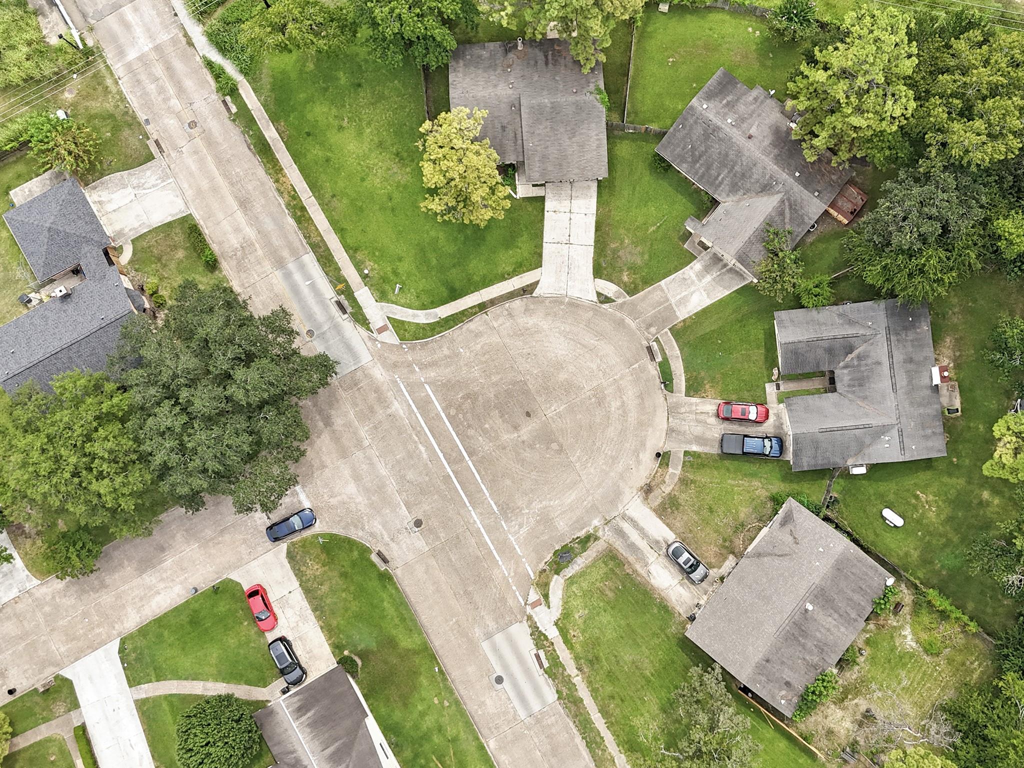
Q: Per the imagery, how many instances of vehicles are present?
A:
6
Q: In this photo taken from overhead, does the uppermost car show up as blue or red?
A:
red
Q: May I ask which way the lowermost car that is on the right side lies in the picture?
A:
on a diagonal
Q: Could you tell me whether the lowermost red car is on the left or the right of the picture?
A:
left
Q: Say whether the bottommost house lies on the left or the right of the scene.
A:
left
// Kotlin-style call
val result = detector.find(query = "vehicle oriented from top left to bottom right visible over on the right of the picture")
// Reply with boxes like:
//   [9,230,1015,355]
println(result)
[665,538,709,586]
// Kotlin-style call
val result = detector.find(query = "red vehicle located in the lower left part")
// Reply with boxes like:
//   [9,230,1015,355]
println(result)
[244,581,279,633]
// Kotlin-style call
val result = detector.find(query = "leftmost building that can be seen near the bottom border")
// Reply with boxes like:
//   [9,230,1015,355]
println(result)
[253,658,402,768]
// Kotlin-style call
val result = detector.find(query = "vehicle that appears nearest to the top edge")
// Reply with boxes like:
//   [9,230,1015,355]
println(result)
[716,401,768,425]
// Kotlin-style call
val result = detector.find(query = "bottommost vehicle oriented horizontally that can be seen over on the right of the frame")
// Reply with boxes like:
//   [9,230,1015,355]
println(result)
[718,433,783,459]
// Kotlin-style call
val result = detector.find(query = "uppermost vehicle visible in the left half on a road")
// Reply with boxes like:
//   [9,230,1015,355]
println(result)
[265,506,319,544]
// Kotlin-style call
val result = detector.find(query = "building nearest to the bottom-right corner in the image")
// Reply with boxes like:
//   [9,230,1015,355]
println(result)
[684,496,896,718]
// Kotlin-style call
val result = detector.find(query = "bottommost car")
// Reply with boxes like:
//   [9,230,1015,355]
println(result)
[269,632,306,686]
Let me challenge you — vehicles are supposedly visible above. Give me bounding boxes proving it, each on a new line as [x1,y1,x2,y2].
[269,632,306,686]
[718,433,783,459]
[665,538,709,586]
[244,581,279,633]
[265,506,319,544]
[716,401,768,425]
